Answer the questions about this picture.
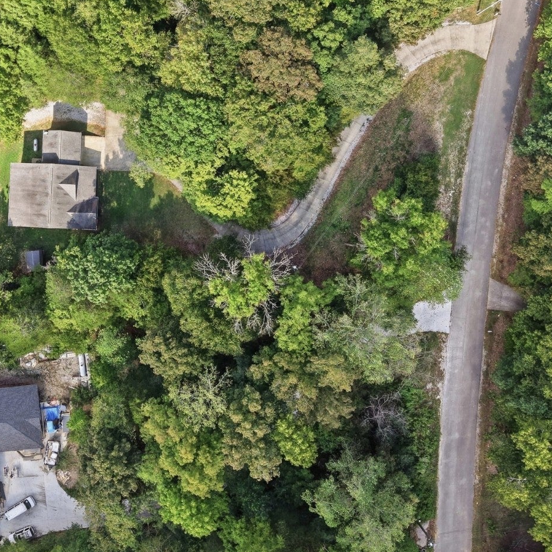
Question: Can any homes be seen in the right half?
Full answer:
No, in the right half there is no home.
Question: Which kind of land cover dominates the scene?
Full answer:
What you mostly see from above here is trees.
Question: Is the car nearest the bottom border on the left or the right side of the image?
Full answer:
The car nearest the bottom border is on the left side of the image.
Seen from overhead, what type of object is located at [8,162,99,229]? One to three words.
house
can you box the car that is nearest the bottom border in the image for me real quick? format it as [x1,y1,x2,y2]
[8,525,38,545]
